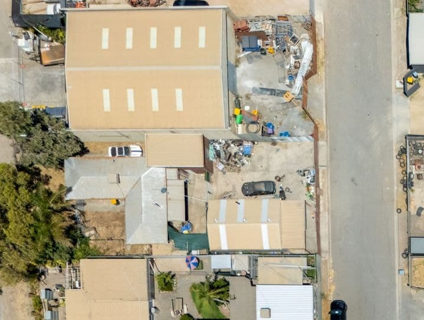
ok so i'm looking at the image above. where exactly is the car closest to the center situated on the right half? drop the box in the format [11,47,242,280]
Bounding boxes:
[242,180,278,198]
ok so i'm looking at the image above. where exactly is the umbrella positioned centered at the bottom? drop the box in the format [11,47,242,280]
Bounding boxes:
[186,256,199,269]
